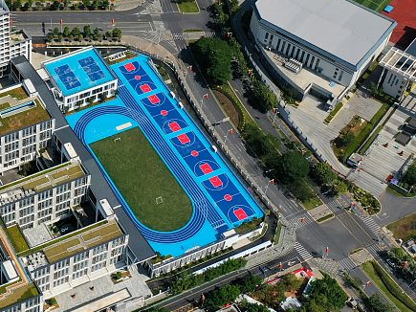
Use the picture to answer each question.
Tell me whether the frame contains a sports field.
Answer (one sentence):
Yes, a sports field is visible in the scene.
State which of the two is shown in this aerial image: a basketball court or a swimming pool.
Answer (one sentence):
The one in the frame is a basketball court.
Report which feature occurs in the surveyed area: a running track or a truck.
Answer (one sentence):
Looking from above, you can make out a running track.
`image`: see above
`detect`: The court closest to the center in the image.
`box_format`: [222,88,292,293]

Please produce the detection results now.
[170,130,222,175]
